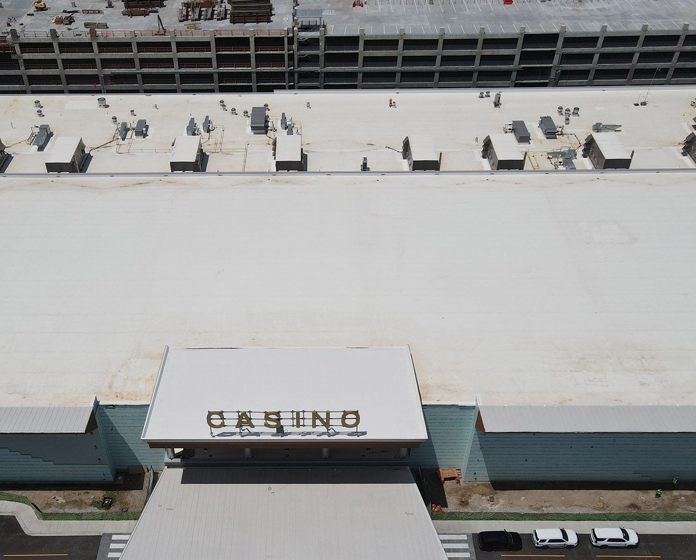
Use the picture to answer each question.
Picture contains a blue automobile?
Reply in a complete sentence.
No, no blue automobile is visible in the scene.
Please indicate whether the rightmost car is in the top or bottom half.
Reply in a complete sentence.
The rightmost car is in the bottom half of the image.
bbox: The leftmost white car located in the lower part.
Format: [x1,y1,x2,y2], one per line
[531,528,582,552]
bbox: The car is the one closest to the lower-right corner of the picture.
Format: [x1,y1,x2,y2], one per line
[590,527,641,552]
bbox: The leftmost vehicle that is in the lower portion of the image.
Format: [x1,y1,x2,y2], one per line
[476,530,526,554]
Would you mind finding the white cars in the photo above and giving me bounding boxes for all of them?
[590,527,641,552]
[531,528,582,552]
